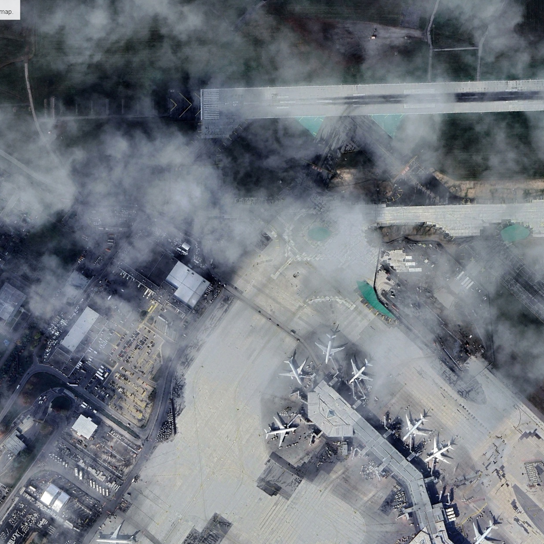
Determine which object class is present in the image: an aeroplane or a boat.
aeroplane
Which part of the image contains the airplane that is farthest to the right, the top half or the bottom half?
bottom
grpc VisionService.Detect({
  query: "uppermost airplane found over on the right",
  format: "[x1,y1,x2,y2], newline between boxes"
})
[314,333,345,364]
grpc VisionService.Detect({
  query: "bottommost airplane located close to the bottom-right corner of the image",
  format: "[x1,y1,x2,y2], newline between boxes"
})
[472,520,498,544]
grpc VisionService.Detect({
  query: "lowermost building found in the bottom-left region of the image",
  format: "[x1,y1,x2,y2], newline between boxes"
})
[40,484,69,513]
